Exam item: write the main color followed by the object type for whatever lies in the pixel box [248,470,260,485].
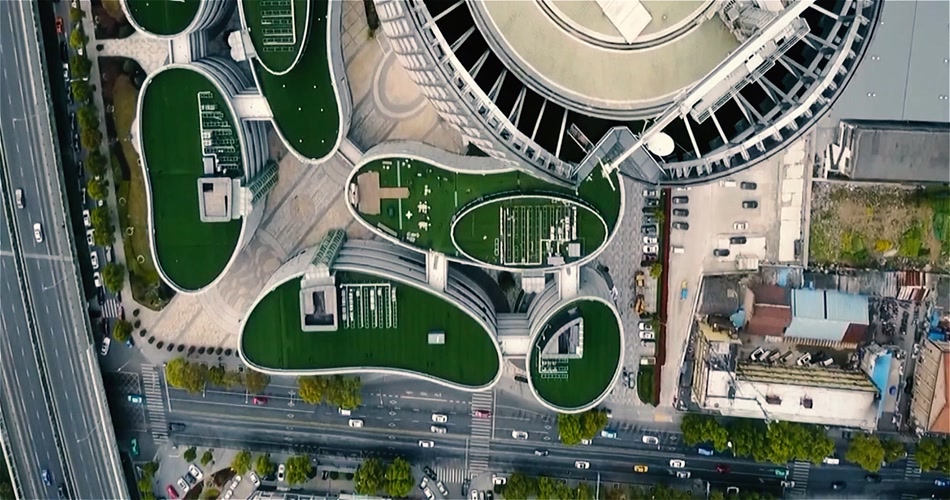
white vehicle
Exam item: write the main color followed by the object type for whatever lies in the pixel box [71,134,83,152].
black vehicle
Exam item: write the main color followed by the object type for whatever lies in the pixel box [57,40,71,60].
black vehicle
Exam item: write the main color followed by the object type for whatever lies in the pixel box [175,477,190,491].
white vehicle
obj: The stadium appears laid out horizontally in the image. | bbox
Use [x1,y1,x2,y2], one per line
[369,0,886,189]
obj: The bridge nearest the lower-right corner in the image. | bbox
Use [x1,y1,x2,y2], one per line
[551,263,580,304]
